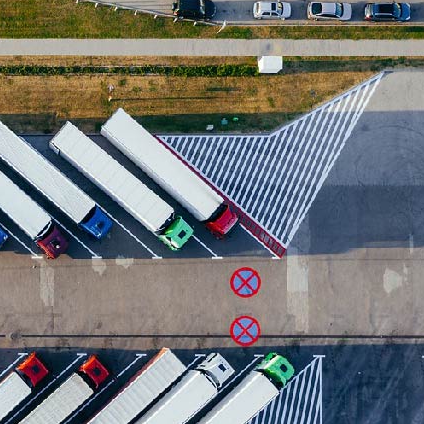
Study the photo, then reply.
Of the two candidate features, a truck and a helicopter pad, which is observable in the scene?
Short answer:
truck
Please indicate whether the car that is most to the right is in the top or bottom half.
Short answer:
top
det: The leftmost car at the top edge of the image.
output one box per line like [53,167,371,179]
[175,0,216,21]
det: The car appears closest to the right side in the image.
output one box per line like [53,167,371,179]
[364,1,409,21]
